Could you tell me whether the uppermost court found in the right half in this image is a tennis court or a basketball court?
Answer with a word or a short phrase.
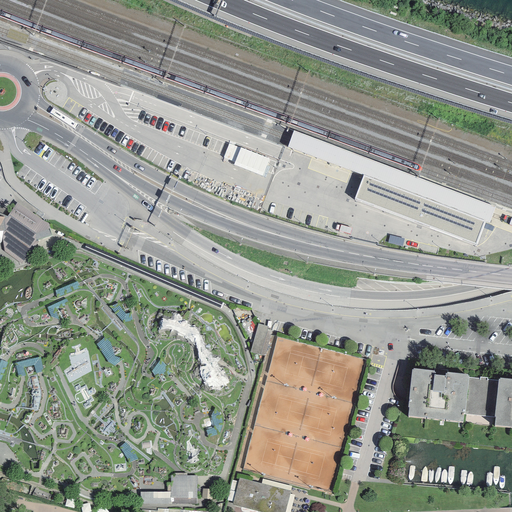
tennis court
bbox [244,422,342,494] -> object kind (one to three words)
tennis court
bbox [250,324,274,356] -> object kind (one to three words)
shed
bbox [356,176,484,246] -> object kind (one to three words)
building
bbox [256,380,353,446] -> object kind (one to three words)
tennis court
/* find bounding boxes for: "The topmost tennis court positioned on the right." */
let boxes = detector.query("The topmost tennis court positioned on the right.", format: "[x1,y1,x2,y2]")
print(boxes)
[266,337,364,403]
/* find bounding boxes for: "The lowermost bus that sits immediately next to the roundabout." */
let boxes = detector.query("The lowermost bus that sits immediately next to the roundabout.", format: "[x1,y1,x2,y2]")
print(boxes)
[50,108,78,131]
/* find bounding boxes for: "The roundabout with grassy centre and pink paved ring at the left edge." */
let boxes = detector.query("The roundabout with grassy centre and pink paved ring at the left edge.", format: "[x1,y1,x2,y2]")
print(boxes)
[0,54,40,130]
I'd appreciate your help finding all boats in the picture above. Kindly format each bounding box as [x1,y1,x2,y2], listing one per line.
[494,464,500,484]
[500,474,505,487]
[410,464,415,480]
[486,471,492,485]
[467,472,473,484]
[442,469,447,483]
[448,464,454,483]
[461,469,466,484]
[435,467,440,482]
[422,466,428,482]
